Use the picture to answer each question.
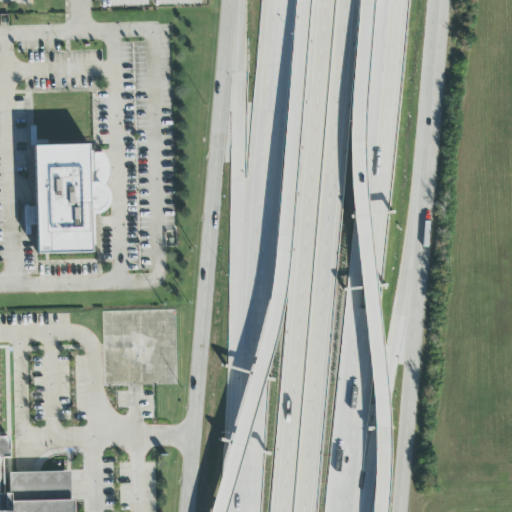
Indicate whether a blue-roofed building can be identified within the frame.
No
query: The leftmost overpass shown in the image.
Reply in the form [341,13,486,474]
[212,0,311,512]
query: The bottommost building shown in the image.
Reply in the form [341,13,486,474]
[0,470,76,512]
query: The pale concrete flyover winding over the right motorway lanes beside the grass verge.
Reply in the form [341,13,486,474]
[344,0,396,512]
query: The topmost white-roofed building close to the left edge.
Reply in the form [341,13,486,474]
[25,125,113,252]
